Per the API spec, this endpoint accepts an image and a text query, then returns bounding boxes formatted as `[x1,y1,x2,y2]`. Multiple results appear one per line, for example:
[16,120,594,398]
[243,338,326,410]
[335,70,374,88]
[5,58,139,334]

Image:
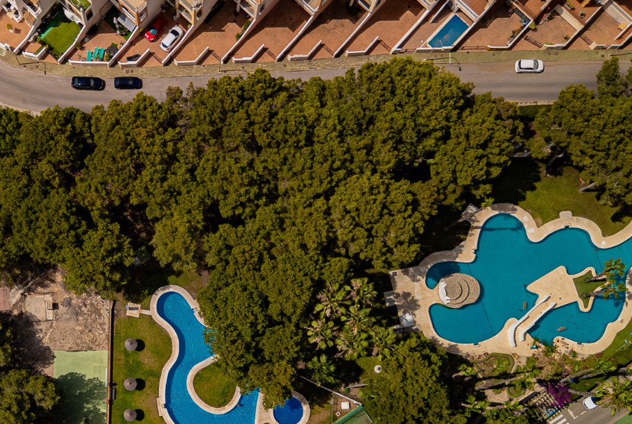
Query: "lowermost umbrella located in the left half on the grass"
[124,408,137,422]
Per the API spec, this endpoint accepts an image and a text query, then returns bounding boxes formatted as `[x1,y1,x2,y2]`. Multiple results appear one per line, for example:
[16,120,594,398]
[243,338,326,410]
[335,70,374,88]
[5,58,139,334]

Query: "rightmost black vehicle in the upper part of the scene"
[114,77,142,91]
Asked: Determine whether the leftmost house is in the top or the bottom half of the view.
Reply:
top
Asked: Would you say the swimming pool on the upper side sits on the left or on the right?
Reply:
right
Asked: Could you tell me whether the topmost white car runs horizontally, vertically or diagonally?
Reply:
diagonally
